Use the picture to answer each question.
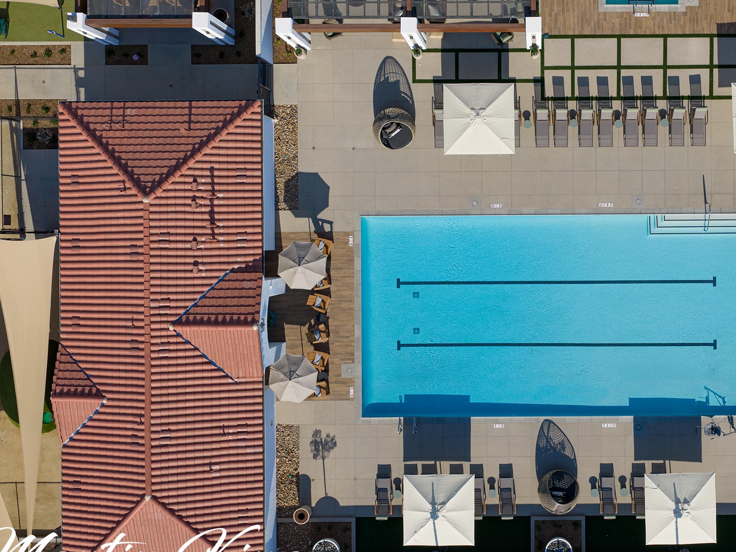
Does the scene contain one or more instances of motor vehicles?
No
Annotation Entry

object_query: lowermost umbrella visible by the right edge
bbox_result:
[644,472,717,545]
